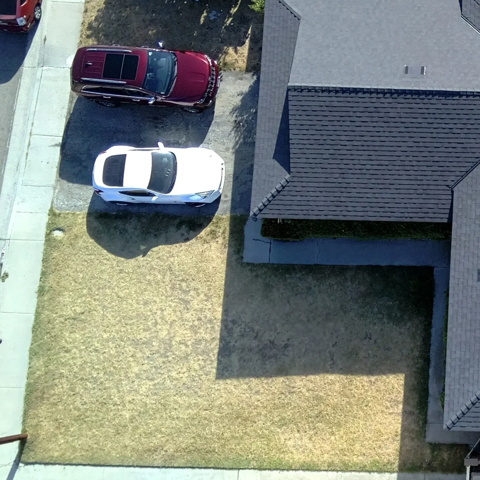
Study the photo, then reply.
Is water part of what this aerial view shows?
No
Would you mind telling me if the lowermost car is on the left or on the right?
left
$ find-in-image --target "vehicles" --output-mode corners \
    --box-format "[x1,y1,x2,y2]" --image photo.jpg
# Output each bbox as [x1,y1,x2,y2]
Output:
[92,141,227,208]
[0,0,41,34]
[68,41,223,114]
